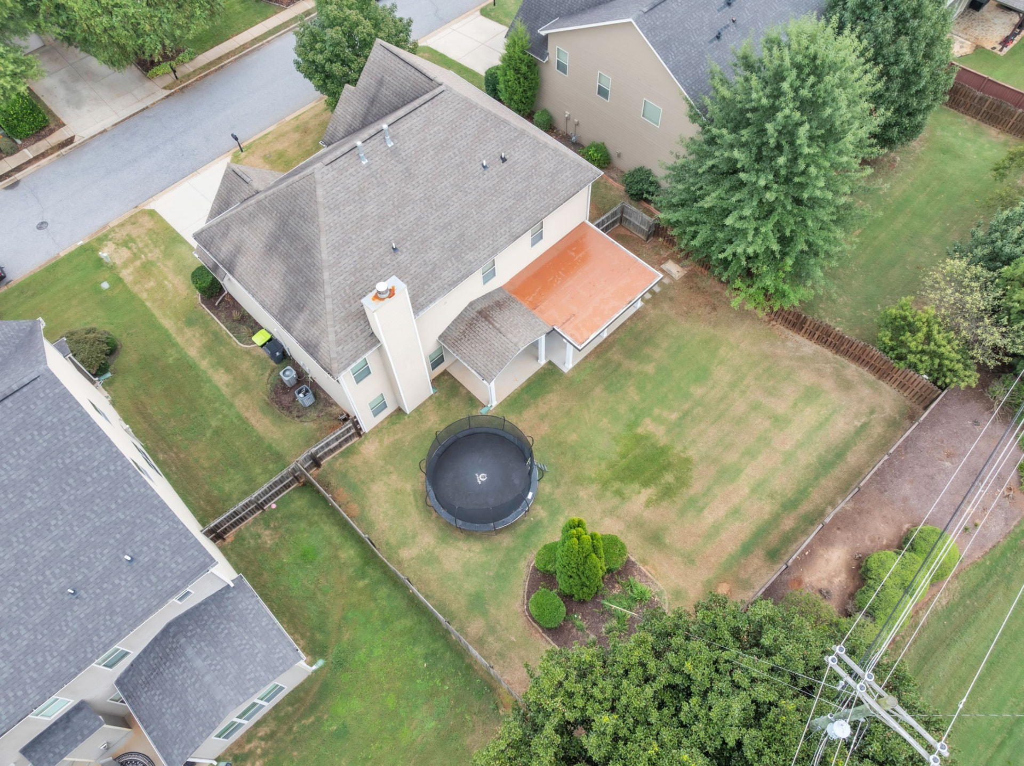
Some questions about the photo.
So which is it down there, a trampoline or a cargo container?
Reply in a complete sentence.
Of the two, only a trampoline appears.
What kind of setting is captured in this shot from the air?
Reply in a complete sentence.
This image shows a residential area.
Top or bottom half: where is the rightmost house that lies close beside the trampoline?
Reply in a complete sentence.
The rightmost house that lies close beside the trampoline sits in the top half of the picture.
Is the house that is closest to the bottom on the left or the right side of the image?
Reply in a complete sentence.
It is on the left.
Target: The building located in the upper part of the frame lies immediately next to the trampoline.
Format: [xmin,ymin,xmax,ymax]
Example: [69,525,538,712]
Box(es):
[189,38,666,433]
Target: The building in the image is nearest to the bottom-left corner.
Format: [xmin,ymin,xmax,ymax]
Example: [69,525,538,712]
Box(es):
[0,317,320,766]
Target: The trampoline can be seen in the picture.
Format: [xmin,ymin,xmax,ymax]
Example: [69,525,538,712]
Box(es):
[420,411,542,534]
